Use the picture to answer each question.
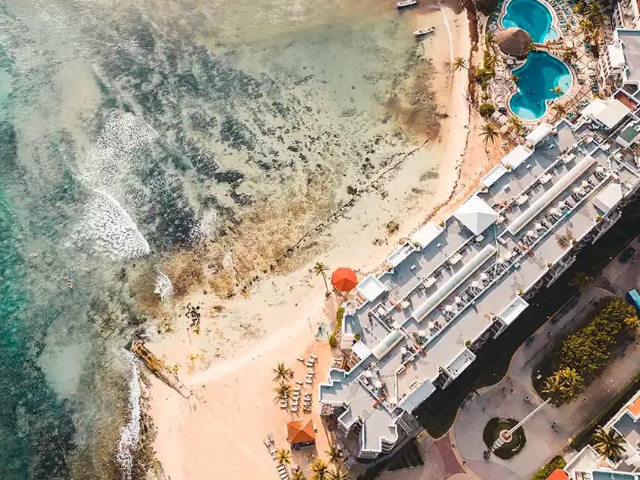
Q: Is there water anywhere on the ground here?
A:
Yes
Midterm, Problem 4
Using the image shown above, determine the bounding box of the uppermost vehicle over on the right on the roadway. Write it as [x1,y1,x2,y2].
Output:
[622,246,637,260]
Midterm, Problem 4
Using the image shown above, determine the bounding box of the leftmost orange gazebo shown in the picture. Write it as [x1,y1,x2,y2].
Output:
[287,420,315,445]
